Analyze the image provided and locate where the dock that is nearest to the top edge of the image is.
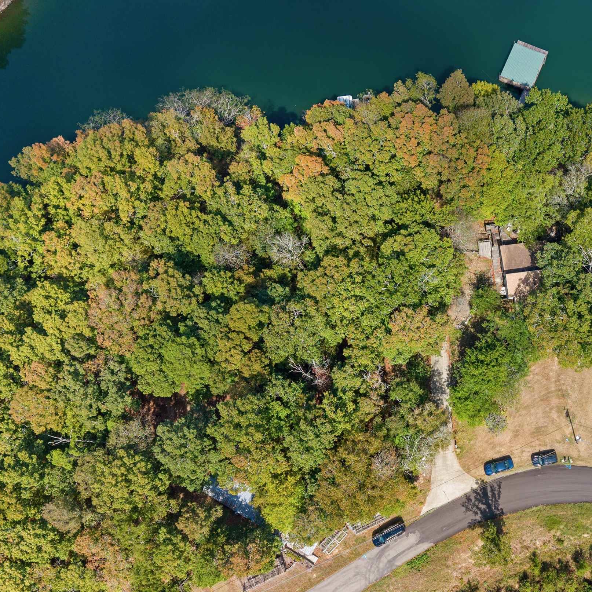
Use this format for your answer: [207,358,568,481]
[500,40,548,91]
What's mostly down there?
trees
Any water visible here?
Yes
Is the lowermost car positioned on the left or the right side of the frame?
right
